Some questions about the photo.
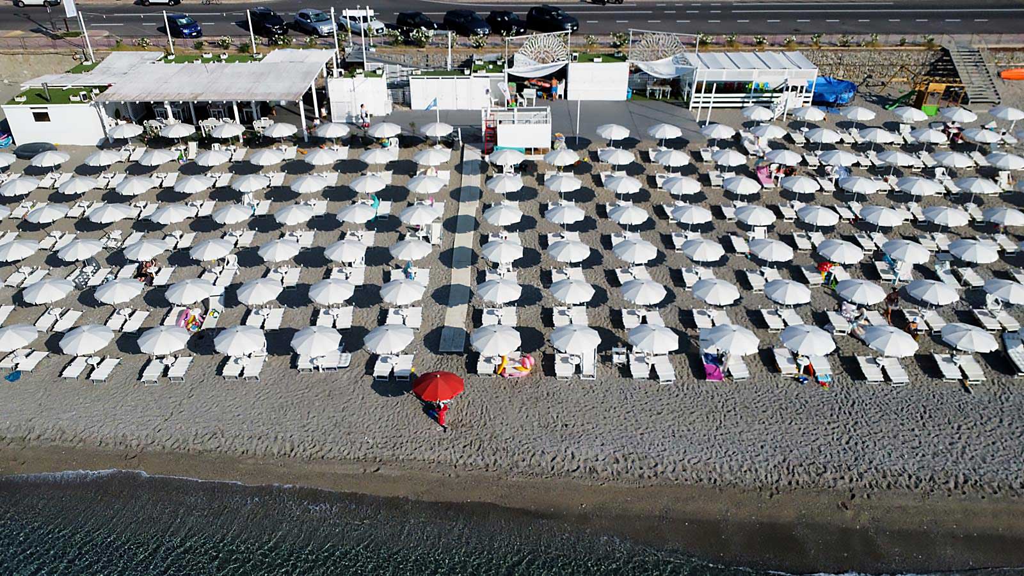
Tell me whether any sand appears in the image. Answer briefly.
Yes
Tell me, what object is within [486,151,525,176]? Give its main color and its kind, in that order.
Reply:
white umbrella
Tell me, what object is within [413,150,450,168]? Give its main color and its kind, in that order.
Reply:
white umbrella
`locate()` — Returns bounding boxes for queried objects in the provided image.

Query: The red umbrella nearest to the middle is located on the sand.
[411,369,466,417]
